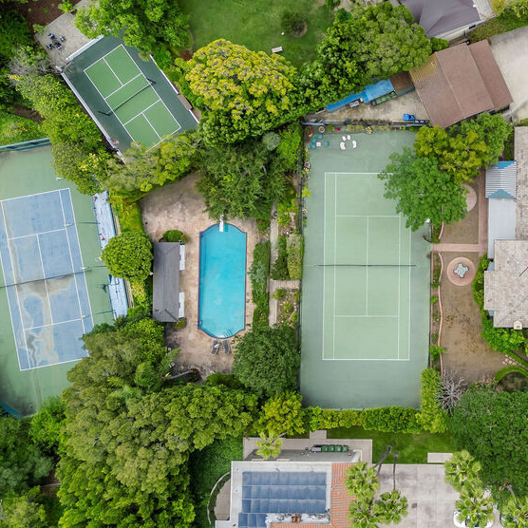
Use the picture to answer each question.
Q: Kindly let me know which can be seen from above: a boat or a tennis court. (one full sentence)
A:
Of the two, only a tennis court appears.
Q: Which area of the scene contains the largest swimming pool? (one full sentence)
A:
Look in the center portion of the view to spot the largest swimming pool.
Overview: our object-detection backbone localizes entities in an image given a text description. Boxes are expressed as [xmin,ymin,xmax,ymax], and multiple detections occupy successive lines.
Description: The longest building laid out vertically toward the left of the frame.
[153,241,185,323]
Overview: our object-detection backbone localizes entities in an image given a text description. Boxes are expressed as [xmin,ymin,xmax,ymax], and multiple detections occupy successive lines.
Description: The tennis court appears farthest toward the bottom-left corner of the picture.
[0,145,138,420]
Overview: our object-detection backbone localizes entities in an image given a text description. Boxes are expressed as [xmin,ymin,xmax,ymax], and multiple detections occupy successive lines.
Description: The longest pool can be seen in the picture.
[196,219,248,342]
